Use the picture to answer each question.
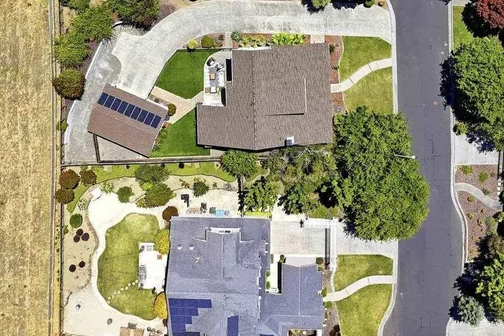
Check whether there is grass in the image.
Yes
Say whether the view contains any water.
No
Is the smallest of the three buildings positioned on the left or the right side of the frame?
left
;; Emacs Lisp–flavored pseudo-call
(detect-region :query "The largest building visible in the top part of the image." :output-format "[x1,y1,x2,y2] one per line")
[196,47,332,151]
